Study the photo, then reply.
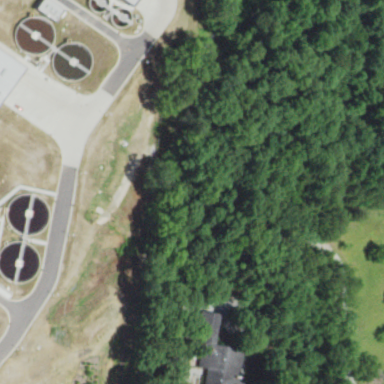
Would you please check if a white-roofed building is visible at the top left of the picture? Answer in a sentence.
Yes, at the top left of the picture there is a white-roofed building.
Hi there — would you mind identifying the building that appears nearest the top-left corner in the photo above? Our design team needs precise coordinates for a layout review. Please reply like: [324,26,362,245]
[38,0,64,21]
